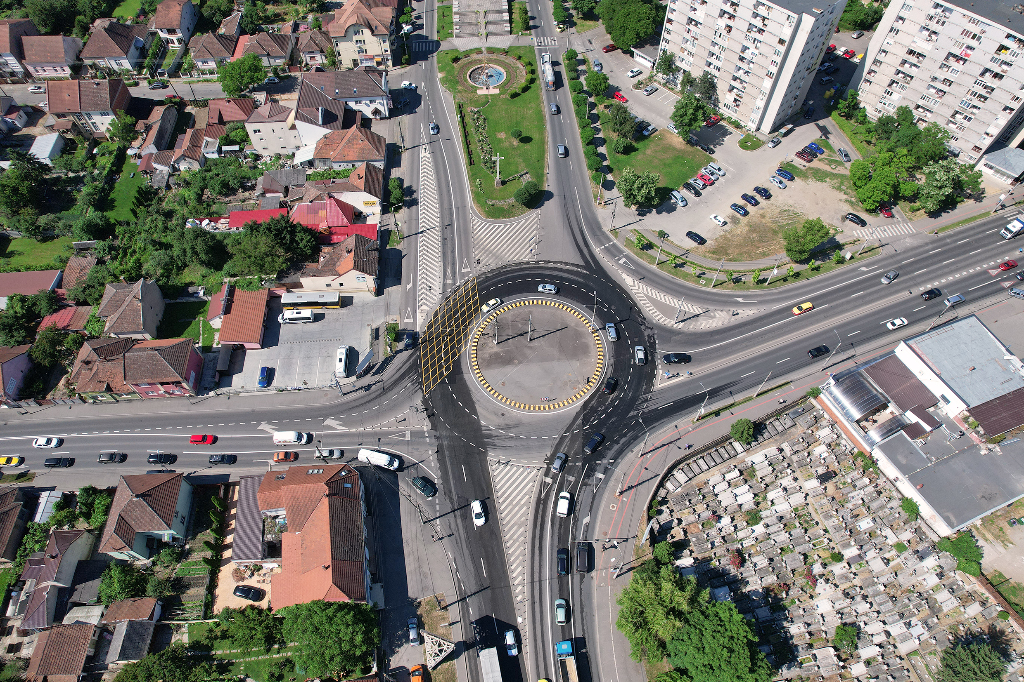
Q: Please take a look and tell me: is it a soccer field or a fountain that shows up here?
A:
fountain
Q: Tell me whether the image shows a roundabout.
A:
Yes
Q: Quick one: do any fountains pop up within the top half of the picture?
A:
Yes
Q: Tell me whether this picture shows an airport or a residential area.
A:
residential area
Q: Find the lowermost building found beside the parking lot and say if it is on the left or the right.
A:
right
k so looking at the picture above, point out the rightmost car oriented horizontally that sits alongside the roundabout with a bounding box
[664,352,690,365]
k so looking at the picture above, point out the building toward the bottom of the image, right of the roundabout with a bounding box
[819,313,1024,542]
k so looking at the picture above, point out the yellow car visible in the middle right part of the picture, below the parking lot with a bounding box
[792,301,814,315]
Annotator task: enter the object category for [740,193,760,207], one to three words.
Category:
car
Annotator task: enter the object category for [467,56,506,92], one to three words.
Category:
fountain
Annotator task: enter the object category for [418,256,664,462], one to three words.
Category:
roundabout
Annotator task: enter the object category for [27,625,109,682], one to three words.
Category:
building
